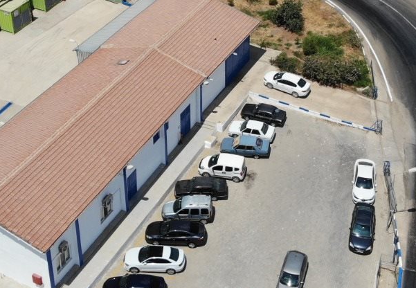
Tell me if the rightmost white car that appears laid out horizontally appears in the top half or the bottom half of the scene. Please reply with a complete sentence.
Seen from above, the rightmost white car that appears laid out horizontally lies in the top half of the view.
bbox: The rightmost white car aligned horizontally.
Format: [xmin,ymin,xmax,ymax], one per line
[263,73,313,99]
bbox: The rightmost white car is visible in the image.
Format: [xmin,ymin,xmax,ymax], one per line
[352,159,378,206]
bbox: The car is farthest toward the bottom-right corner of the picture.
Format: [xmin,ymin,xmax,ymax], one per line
[349,202,378,254]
